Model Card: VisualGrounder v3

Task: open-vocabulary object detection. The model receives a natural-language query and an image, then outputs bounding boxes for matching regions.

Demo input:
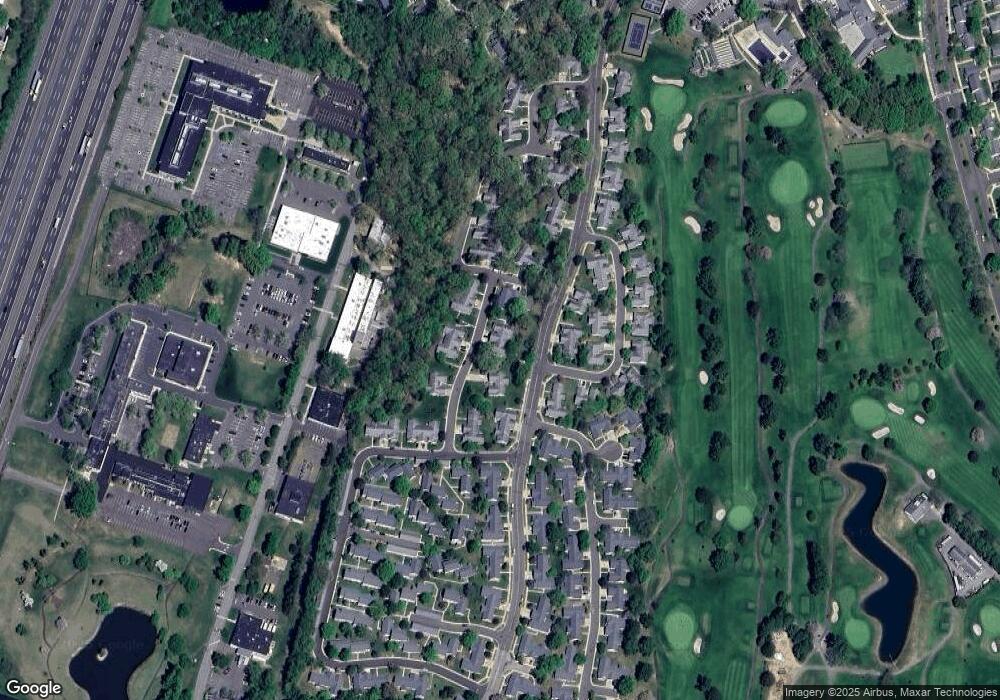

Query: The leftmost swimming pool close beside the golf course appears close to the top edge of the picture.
[731,23,790,74]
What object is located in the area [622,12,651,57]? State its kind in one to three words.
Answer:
tennis court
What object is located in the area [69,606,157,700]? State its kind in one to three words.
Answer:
pond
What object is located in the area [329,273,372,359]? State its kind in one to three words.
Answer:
building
